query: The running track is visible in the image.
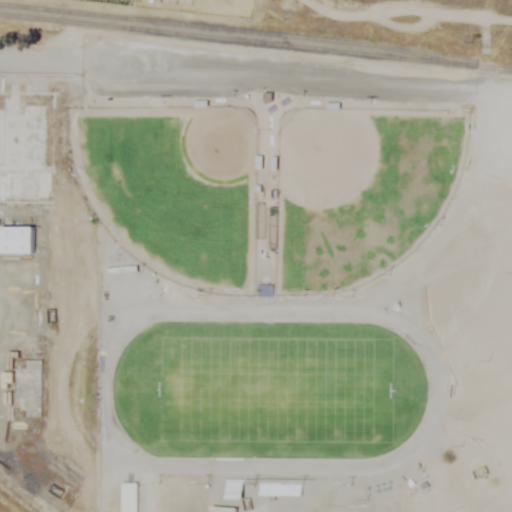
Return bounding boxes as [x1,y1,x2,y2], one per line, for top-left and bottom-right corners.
[100,305,442,474]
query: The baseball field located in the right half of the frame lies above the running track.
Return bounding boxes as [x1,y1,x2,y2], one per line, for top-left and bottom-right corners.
[282,108,472,296]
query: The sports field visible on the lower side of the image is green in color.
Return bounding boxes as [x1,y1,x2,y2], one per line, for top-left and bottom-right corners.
[114,321,428,458]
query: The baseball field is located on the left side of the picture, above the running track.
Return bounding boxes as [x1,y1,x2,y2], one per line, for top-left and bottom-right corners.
[70,109,256,296]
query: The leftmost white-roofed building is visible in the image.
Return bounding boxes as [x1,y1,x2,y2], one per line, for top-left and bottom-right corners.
[0,226,37,254]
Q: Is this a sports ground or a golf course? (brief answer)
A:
sports ground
